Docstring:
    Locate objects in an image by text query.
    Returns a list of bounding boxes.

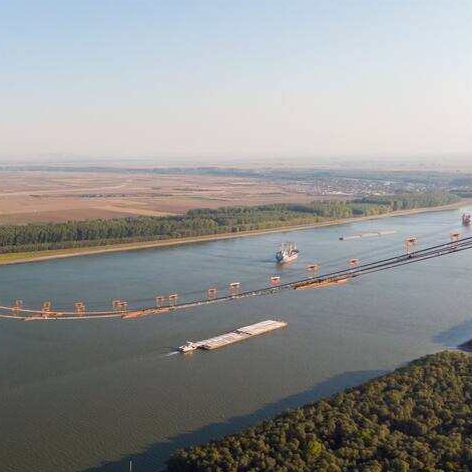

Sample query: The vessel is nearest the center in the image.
[276,242,298,264]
